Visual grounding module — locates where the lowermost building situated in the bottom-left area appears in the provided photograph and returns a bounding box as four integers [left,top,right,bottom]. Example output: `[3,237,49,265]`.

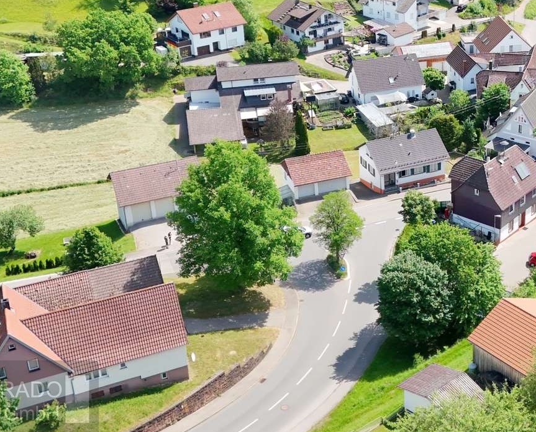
[0,256,191,432]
